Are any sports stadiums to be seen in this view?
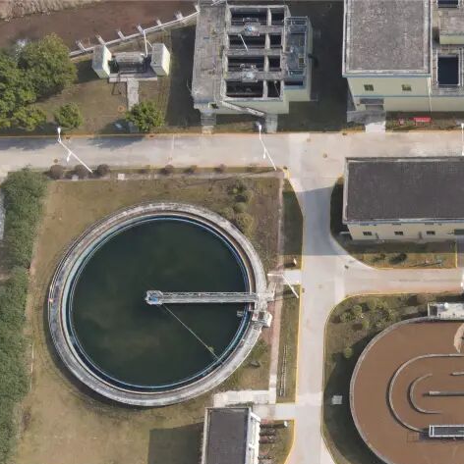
No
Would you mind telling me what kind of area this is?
industrial area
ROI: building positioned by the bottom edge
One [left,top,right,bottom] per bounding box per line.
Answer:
[206,408,259,464]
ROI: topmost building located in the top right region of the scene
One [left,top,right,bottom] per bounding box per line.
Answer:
[343,0,435,123]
